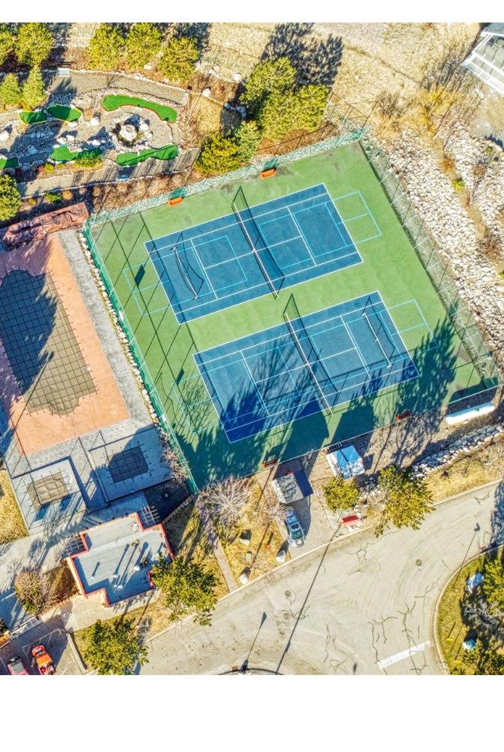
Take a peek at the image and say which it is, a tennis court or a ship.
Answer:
tennis court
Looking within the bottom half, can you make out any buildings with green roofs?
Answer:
No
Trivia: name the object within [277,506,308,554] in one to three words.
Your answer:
car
